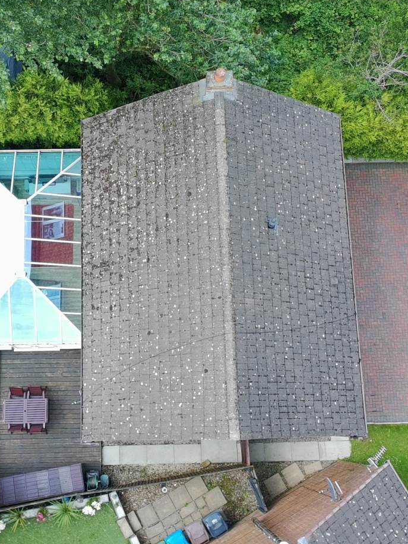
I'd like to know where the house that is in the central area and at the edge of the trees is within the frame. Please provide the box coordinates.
[77,77,371,444]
